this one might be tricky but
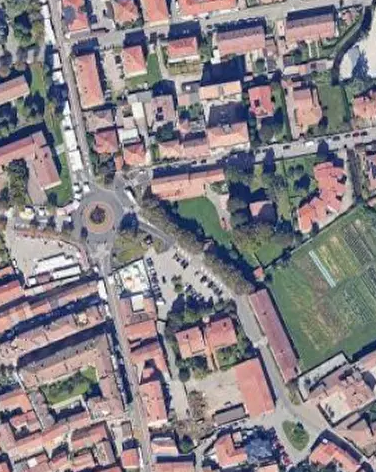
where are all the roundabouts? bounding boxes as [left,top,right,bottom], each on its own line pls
[72,189,126,243]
